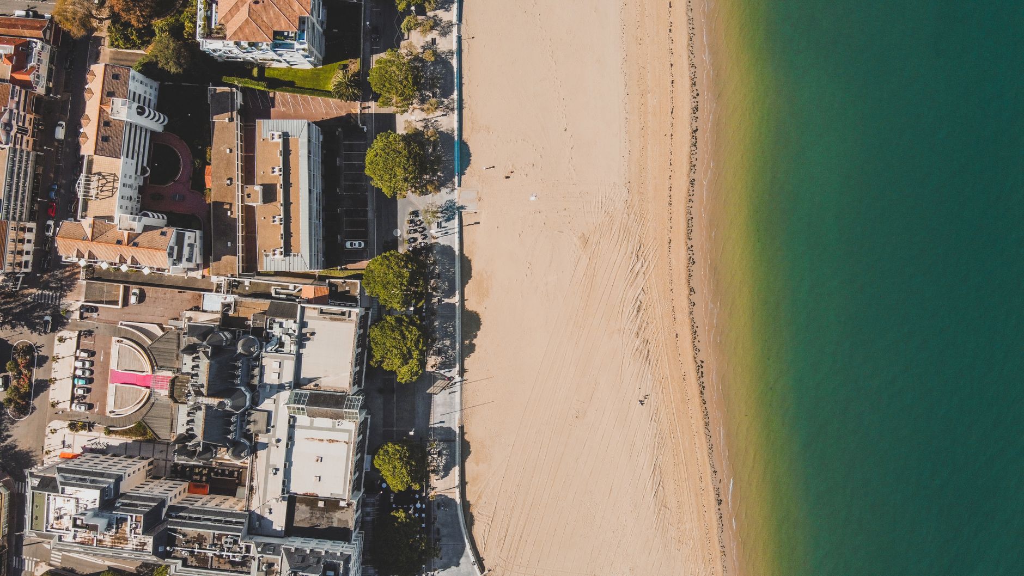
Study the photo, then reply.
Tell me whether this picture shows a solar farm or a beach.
beach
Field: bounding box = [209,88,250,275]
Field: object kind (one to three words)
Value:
building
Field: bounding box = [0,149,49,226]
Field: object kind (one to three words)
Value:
house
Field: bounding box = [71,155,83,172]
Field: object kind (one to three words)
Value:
vehicle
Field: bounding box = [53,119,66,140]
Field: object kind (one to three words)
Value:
vehicle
